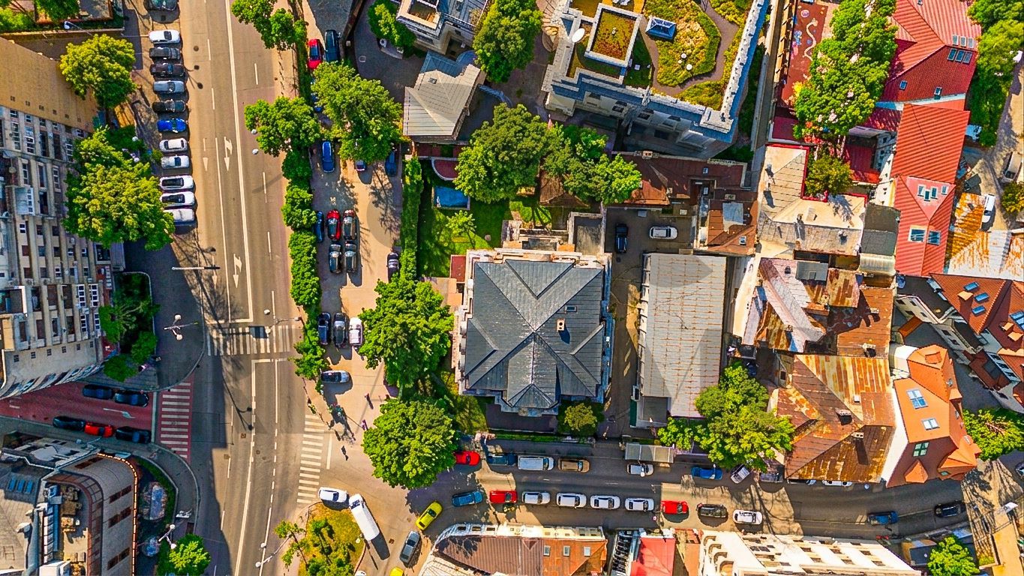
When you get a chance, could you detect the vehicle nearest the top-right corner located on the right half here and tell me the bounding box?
[997,150,1024,186]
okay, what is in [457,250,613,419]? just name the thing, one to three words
house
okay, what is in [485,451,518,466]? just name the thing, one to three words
car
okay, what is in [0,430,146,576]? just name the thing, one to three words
building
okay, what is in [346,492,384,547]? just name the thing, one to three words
truck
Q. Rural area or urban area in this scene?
urban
